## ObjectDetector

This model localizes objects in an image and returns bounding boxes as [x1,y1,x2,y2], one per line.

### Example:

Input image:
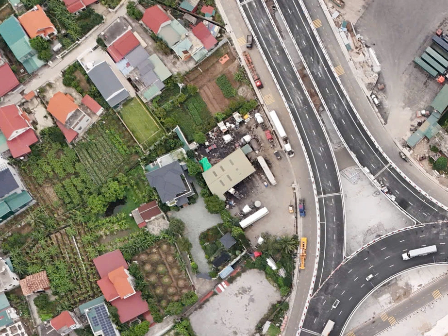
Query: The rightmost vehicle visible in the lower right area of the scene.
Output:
[401,244,438,261]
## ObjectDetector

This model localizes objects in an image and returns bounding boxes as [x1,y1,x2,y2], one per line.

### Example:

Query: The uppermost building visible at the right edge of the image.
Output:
[431,83,448,116]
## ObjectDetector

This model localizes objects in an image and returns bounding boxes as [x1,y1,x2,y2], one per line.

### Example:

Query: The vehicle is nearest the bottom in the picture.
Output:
[321,319,335,336]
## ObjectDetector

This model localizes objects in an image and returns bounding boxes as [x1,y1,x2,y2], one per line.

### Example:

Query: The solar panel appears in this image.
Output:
[97,306,116,336]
